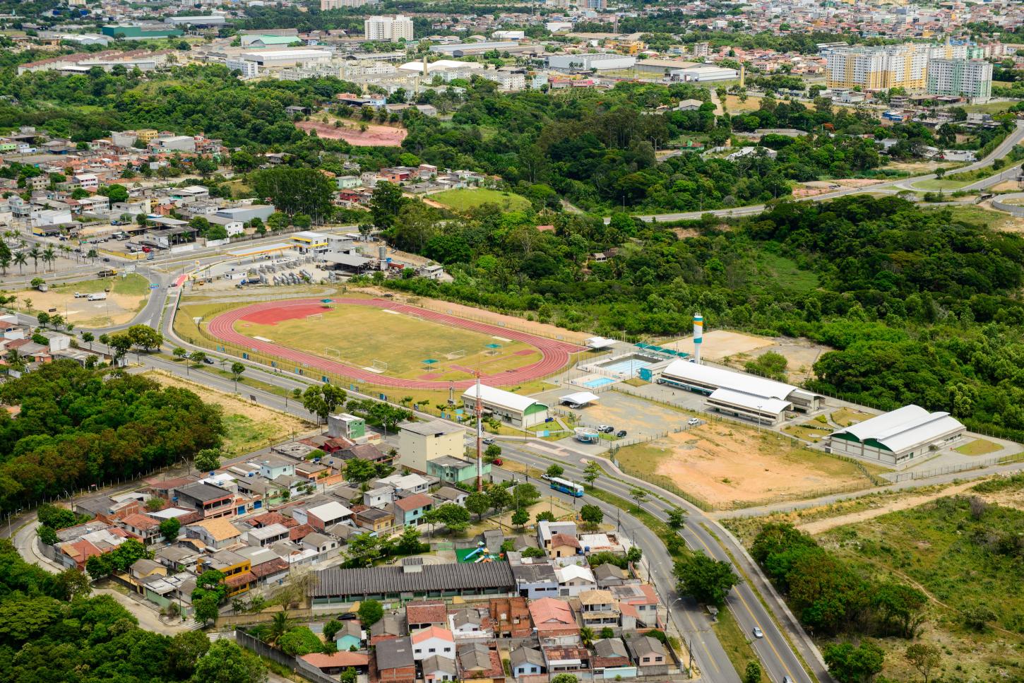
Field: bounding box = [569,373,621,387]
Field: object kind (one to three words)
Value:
swimming pool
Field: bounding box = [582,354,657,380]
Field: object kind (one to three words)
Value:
swimming pool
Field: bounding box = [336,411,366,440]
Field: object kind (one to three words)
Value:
house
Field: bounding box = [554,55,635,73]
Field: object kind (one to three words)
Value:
building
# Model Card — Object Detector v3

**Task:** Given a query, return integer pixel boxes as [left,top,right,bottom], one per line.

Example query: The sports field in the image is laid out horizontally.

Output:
[233,303,543,381]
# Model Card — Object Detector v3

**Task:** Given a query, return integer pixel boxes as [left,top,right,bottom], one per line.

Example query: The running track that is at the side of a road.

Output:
[207,298,617,389]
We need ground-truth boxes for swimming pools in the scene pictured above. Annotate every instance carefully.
[569,373,621,387]
[582,354,657,380]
